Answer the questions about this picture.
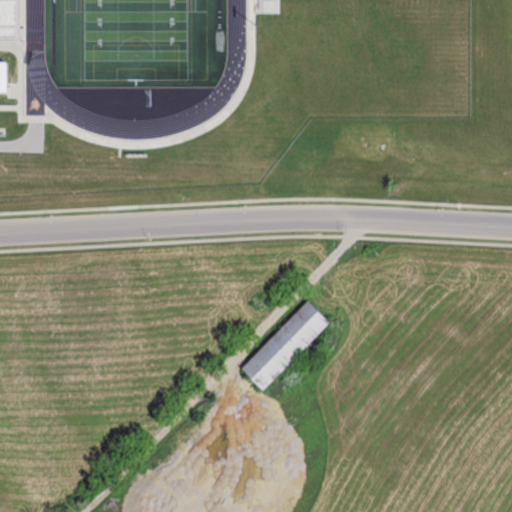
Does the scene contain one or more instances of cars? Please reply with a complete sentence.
No, this view has no car in it.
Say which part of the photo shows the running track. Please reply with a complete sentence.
You can find the running track in the top left area of the picture.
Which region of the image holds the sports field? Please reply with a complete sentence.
The sports field sits in the top left section of the image.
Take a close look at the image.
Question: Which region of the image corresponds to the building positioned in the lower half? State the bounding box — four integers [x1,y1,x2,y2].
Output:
[241,302,329,390]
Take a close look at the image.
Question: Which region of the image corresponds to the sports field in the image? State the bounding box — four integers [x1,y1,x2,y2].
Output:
[46,0,227,86]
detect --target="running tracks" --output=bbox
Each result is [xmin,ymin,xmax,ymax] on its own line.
[27,0,246,138]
